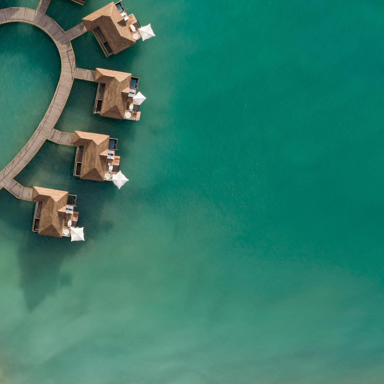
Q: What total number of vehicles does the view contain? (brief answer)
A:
none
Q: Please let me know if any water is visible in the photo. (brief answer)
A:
Yes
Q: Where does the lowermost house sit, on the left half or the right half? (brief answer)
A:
left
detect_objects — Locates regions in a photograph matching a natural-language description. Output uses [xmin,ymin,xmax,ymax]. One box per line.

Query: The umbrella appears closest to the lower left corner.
[70,228,85,242]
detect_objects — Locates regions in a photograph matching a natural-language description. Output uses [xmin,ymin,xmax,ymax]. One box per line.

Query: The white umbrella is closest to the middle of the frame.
[111,172,129,190]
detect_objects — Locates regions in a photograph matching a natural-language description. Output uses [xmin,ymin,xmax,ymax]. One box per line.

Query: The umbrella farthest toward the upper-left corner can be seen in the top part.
[138,24,155,41]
